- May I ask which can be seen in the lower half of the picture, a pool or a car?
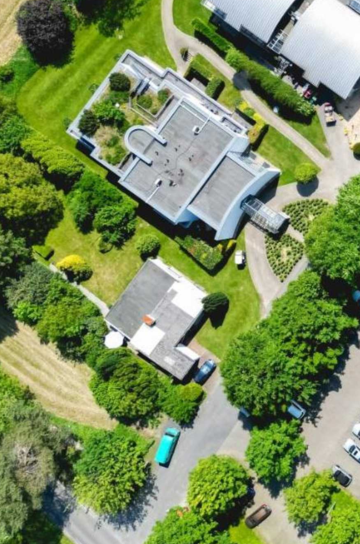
car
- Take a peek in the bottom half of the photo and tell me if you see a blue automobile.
Yes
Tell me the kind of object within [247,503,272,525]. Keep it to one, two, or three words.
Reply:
car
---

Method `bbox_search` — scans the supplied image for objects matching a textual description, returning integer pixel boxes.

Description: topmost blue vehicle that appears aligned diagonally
[194,359,217,383]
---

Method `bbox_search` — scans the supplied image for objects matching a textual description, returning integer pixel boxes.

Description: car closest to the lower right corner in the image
[331,465,355,486]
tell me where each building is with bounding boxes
[200,0,360,98]
[105,259,209,380]
[66,49,282,240]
